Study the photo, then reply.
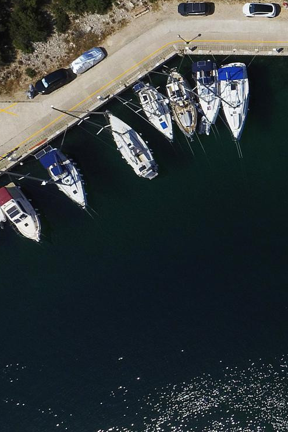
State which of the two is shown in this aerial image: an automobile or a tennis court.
automobile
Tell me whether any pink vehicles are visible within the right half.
No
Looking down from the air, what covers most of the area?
water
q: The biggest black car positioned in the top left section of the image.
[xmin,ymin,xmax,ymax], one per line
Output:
[37,67,72,93]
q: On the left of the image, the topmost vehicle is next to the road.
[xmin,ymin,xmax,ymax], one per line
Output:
[69,48,108,75]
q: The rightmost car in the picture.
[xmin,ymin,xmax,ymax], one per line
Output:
[244,1,278,20]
